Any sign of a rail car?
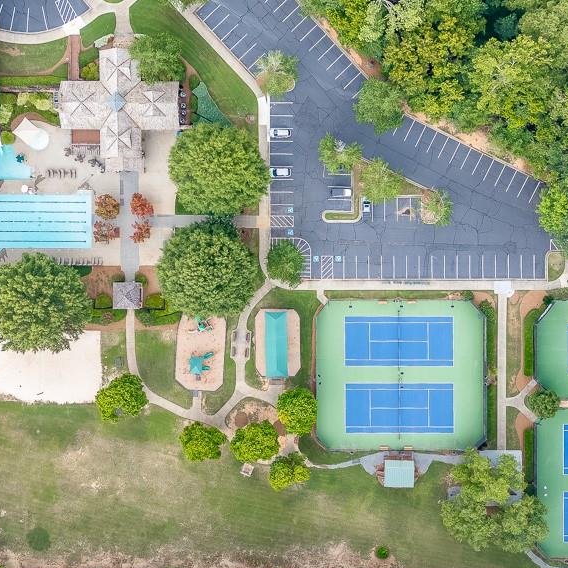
No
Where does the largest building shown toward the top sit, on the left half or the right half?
left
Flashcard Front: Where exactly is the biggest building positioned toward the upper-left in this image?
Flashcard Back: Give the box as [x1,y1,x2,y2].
[55,44,179,173]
